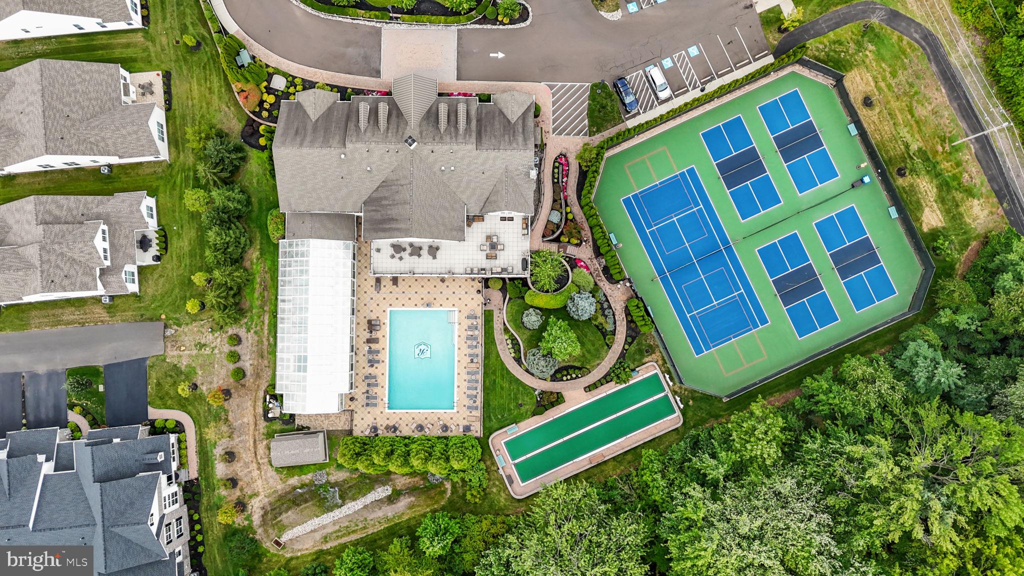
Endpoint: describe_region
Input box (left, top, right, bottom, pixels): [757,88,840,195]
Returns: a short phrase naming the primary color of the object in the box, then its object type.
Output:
blue sports court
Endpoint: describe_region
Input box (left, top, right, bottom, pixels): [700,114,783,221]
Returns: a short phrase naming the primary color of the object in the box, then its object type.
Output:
blue sports court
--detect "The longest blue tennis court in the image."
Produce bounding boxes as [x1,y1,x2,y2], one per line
[621,145,771,378]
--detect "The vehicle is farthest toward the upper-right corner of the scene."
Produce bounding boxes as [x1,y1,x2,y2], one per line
[647,65,670,100]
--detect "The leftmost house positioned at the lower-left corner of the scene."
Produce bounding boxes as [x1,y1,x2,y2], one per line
[0,425,195,576]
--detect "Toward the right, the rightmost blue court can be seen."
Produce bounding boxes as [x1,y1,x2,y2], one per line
[813,204,898,313]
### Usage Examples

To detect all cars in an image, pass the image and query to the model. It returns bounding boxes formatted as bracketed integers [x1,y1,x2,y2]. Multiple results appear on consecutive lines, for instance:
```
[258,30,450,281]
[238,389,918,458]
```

[647,65,670,100]
[615,78,638,113]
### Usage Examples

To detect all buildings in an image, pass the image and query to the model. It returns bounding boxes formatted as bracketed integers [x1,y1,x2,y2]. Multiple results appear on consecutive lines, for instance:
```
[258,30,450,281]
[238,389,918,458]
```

[0,59,170,174]
[0,191,159,304]
[271,429,330,467]
[0,0,144,36]
[272,73,541,245]
[0,425,195,576]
